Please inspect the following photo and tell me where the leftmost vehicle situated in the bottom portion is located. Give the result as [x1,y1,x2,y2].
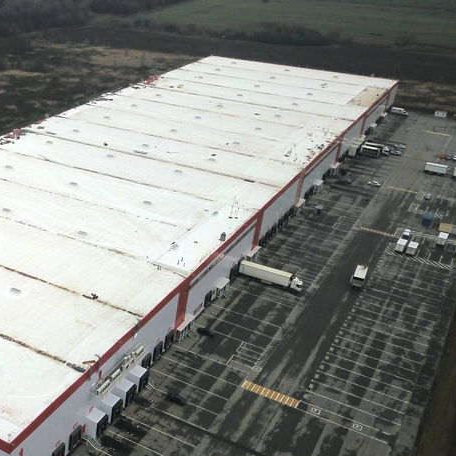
[165,389,186,404]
